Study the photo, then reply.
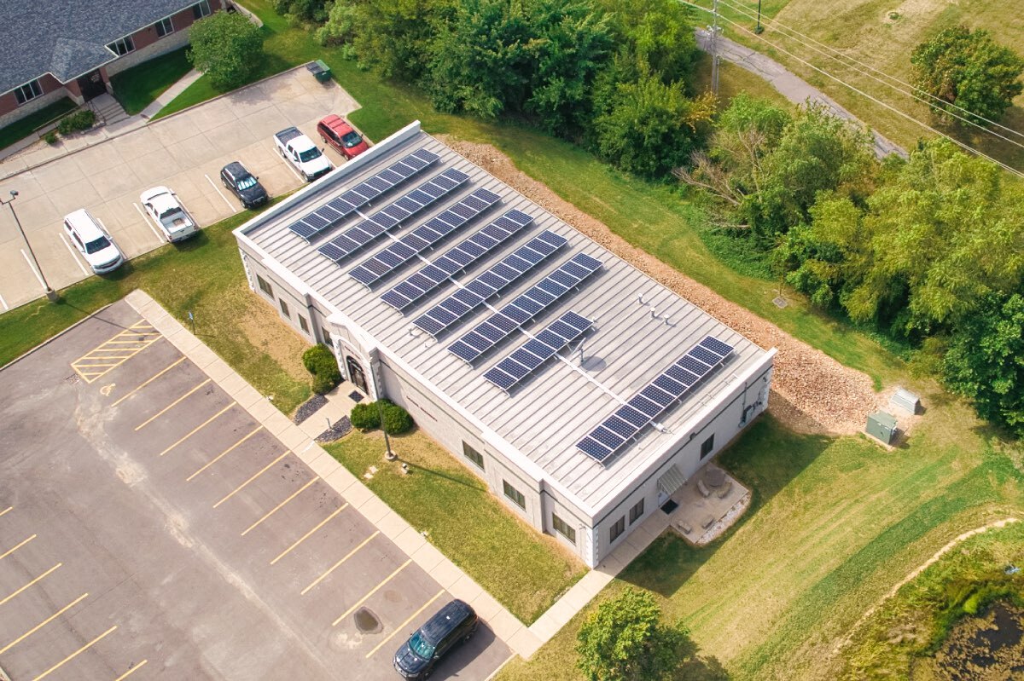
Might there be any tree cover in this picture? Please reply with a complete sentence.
Yes, there's tree cover in this view.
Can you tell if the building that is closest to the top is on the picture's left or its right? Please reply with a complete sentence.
You can find the building that is closest to the top on the left side of the picture.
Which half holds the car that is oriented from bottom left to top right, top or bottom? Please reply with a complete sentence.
You can find the car that is oriented from bottom left to top right in the bottom half.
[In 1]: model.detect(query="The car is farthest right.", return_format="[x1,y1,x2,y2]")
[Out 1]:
[386,596,479,681]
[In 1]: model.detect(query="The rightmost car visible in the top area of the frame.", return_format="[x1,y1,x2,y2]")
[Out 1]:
[314,108,370,159]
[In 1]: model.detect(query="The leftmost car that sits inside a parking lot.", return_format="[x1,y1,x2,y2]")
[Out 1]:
[63,208,120,269]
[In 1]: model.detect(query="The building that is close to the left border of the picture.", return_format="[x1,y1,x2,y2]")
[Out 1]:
[0,0,221,138]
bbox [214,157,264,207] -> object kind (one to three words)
car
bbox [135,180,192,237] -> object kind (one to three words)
truck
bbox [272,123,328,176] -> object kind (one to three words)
truck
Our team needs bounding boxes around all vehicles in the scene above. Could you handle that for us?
[272,123,328,176]
[386,596,479,681]
[135,180,192,237]
[314,108,370,159]
[214,157,264,207]
[63,208,120,269]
